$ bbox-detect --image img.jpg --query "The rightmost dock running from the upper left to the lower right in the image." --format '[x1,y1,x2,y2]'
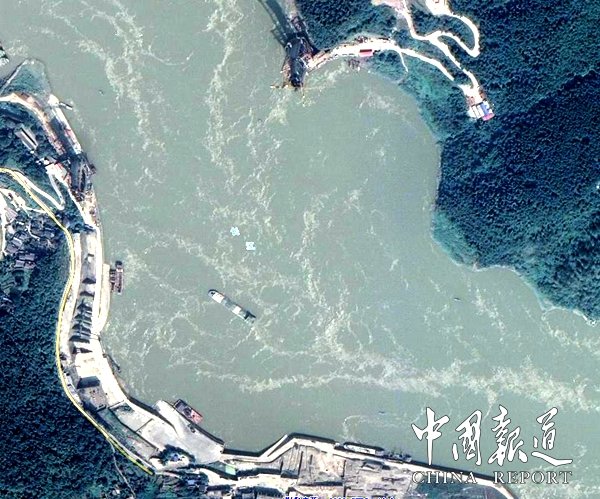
[155,400,224,466]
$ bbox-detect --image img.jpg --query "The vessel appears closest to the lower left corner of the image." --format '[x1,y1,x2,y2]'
[174,397,205,425]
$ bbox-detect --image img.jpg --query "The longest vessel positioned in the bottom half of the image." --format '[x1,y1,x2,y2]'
[208,289,256,323]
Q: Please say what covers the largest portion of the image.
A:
water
